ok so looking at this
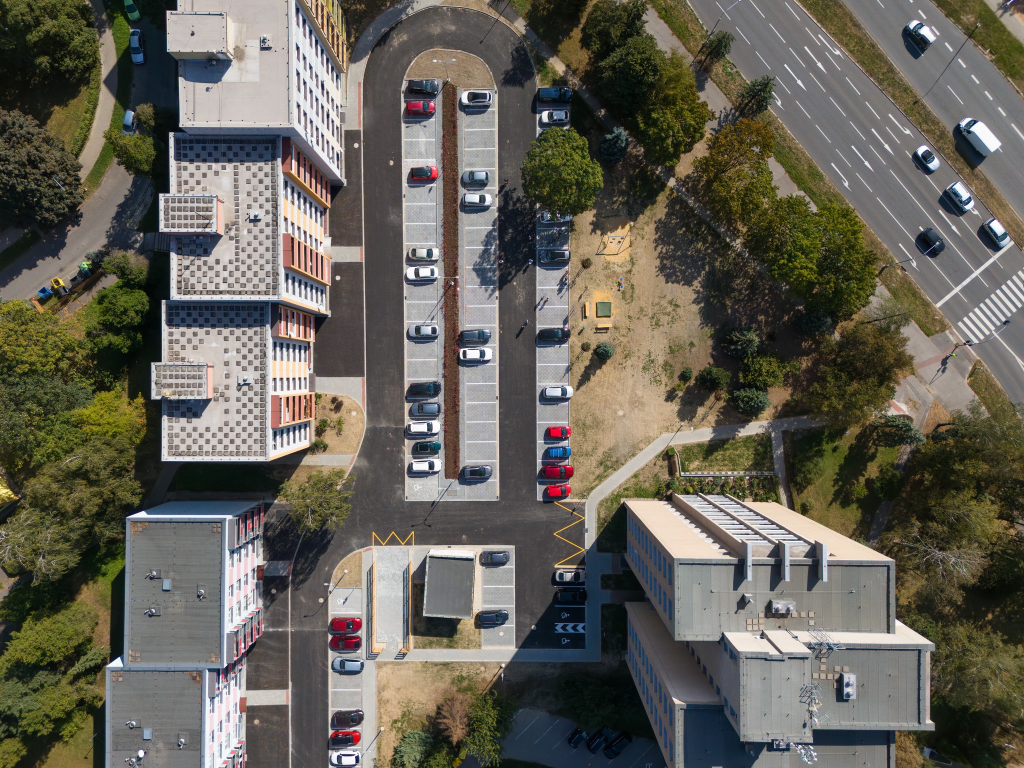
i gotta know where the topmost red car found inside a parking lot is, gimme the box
[405,98,436,117]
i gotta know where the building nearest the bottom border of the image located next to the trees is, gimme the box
[102,650,248,768]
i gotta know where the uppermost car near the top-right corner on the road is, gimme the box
[904,18,938,51]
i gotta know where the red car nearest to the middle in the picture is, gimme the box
[546,424,572,440]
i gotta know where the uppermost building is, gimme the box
[166,0,354,186]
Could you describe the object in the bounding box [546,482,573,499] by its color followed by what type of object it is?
red car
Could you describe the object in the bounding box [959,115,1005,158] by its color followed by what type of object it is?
white van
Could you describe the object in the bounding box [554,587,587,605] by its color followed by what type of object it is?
black car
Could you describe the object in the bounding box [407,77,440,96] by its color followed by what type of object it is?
black car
